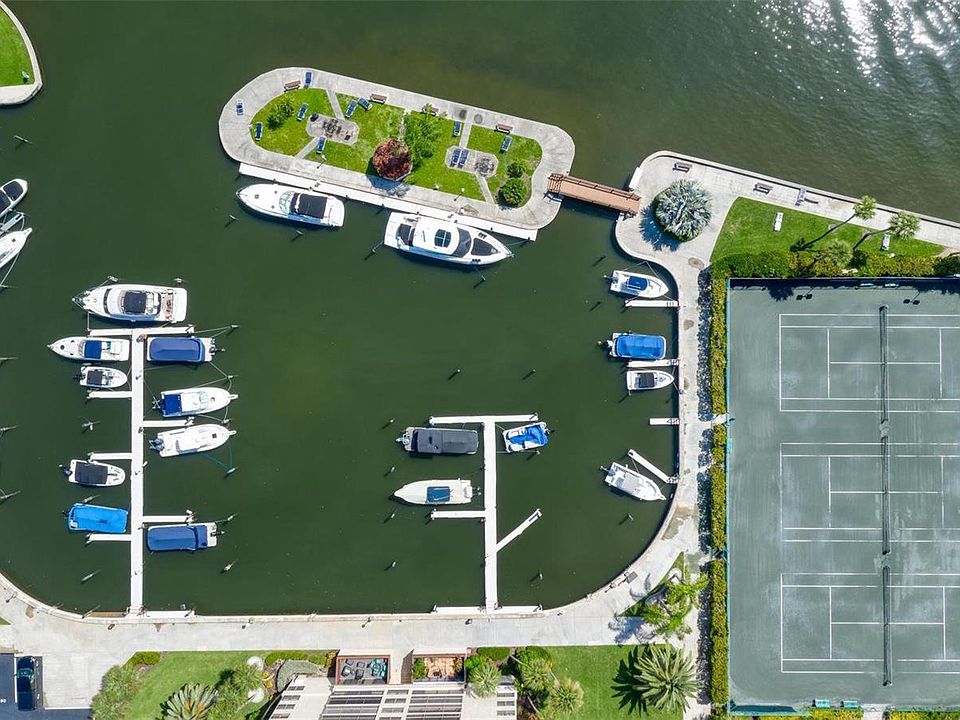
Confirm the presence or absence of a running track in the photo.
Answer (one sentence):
No, this view has no running track in it.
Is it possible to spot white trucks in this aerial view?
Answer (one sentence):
No, no white truck can be seen from above.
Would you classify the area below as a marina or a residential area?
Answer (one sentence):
It's a marina.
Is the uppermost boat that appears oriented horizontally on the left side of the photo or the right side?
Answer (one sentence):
The uppermost boat that appears oriented horizontally sits on the left side.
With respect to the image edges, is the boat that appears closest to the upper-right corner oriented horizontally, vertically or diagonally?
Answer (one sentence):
Seen from above, the boat that appears closest to the upper-right corner lies horizontally.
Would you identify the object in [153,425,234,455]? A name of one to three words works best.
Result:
boat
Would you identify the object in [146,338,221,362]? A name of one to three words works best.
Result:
boat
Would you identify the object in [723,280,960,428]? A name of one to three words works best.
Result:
tennis court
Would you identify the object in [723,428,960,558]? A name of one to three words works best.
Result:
tennis court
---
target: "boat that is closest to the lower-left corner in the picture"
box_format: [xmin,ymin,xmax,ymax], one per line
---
[64,502,131,533]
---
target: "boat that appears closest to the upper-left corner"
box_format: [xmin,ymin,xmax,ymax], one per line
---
[0,181,28,223]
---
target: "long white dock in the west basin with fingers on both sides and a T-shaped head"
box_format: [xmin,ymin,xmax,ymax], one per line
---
[89,325,196,616]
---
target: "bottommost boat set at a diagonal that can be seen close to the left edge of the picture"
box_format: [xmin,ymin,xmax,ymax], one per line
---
[0,229,29,276]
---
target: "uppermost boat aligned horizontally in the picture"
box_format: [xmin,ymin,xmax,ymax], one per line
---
[234,182,347,224]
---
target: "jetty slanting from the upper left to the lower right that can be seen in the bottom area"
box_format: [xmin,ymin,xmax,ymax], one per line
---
[629,449,677,484]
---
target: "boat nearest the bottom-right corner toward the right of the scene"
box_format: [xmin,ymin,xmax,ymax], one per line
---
[602,463,666,501]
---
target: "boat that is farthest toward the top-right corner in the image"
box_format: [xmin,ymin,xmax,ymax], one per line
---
[604,271,668,295]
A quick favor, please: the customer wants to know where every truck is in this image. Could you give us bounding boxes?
[14,655,39,709]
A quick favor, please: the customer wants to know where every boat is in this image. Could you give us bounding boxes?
[0,229,29,276]
[154,387,235,415]
[62,460,126,486]
[64,502,131,533]
[395,480,479,505]
[503,421,551,448]
[604,271,668,295]
[401,427,478,454]
[146,338,221,362]
[0,181,28,223]
[382,211,517,262]
[45,336,131,361]
[73,368,128,388]
[70,281,190,320]
[146,521,225,550]
[624,369,674,389]
[153,425,234,455]
[606,334,667,359]
[234,182,347,224]
[602,463,666,501]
